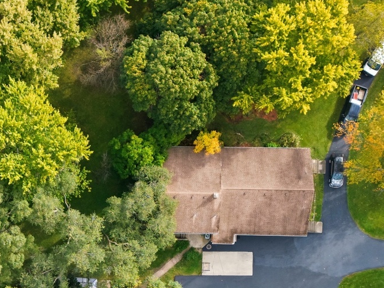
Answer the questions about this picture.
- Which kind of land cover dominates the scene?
trees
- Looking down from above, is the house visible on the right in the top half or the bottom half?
bottom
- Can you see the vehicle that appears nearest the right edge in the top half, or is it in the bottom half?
top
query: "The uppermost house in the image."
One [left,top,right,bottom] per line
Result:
[166,146,316,245]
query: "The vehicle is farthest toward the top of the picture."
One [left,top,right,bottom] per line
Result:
[363,42,384,78]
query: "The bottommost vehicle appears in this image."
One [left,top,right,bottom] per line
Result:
[329,155,346,187]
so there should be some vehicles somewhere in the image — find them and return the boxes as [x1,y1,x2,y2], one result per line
[340,87,366,127]
[329,155,346,187]
[363,42,384,78]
